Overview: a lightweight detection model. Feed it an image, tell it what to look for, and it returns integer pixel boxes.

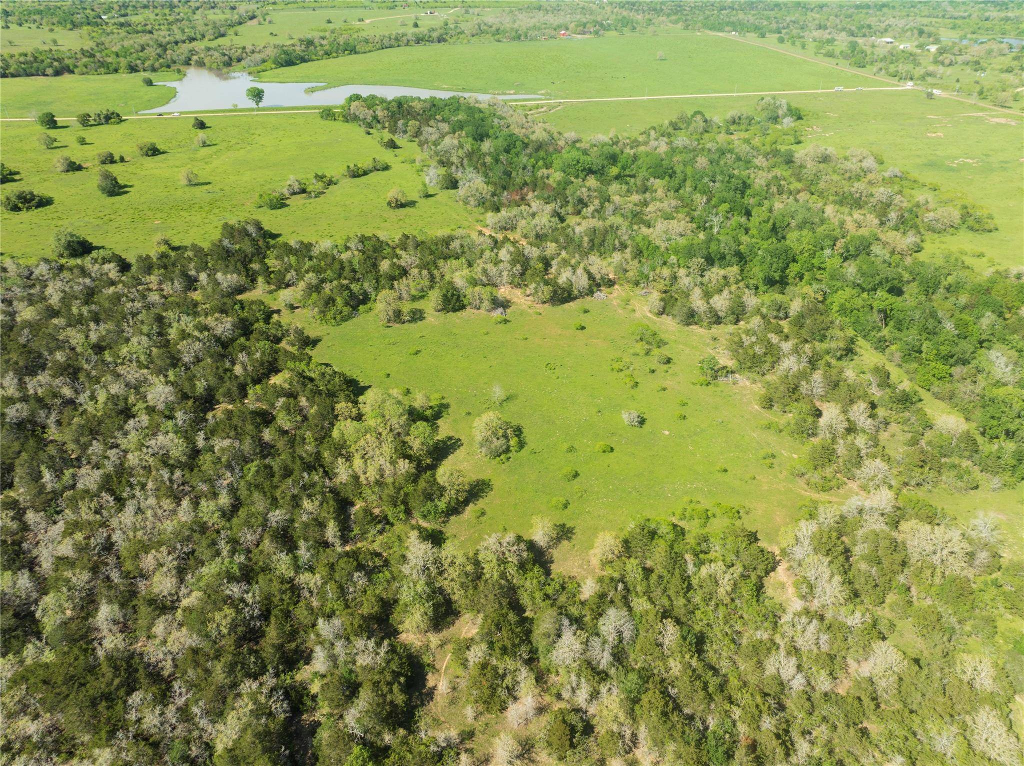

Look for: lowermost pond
[142,67,543,113]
